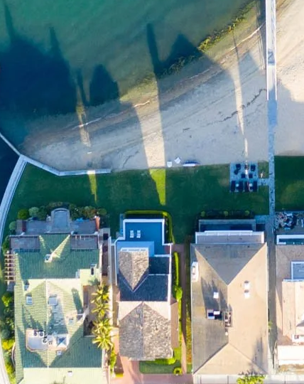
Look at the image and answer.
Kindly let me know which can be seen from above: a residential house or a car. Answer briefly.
residential house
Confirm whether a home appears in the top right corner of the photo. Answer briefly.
No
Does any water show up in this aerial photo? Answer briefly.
Yes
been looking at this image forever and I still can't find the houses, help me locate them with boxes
[114,218,181,360]
[275,231,304,365]
[191,229,270,374]
[14,231,112,384]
